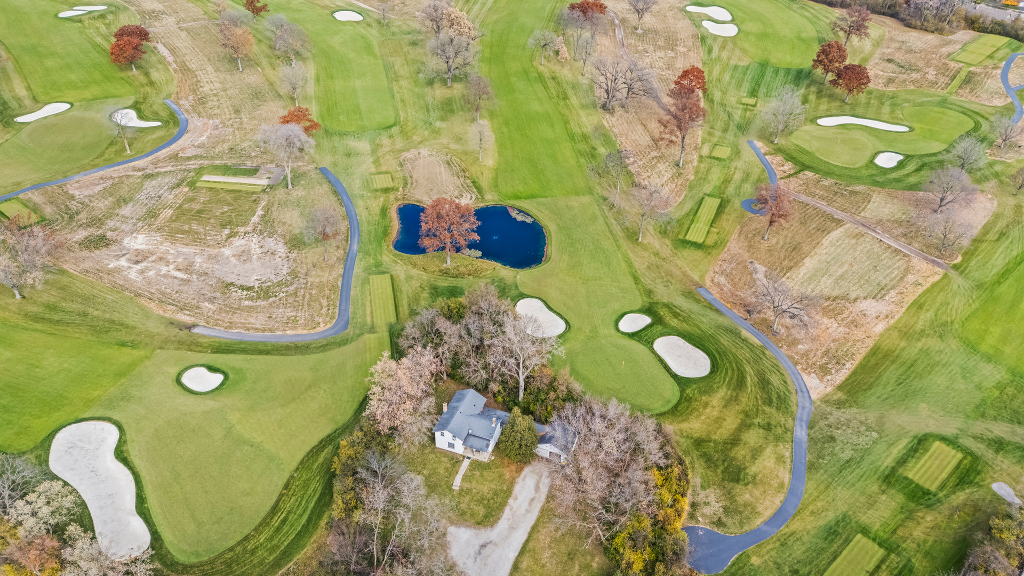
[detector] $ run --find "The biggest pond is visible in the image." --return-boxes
[392,203,547,270]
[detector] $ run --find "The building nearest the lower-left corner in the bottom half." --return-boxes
[432,390,545,463]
